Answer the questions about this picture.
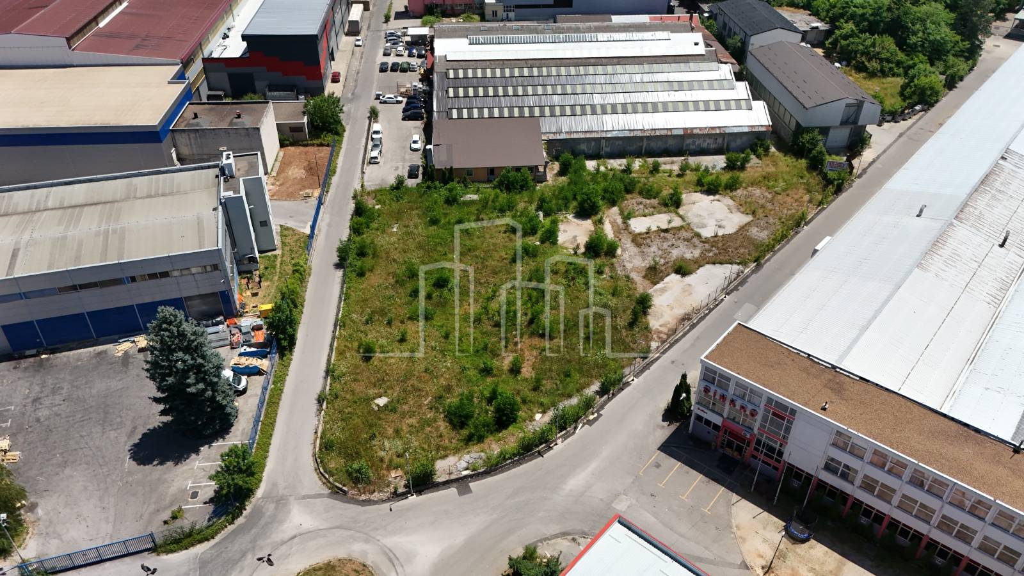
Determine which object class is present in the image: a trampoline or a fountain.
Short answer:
trampoline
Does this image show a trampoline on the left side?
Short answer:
No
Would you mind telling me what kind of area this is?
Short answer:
industrial area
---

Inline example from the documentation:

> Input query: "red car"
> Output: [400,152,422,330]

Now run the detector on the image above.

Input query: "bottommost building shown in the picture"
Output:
[565,515,716,576]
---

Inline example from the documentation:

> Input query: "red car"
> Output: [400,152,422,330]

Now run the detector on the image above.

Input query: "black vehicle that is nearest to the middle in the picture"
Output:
[406,164,420,178]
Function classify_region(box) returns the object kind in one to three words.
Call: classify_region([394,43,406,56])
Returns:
vehicle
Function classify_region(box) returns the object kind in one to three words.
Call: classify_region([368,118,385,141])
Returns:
vehicle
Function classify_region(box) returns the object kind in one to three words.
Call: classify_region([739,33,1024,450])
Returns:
building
